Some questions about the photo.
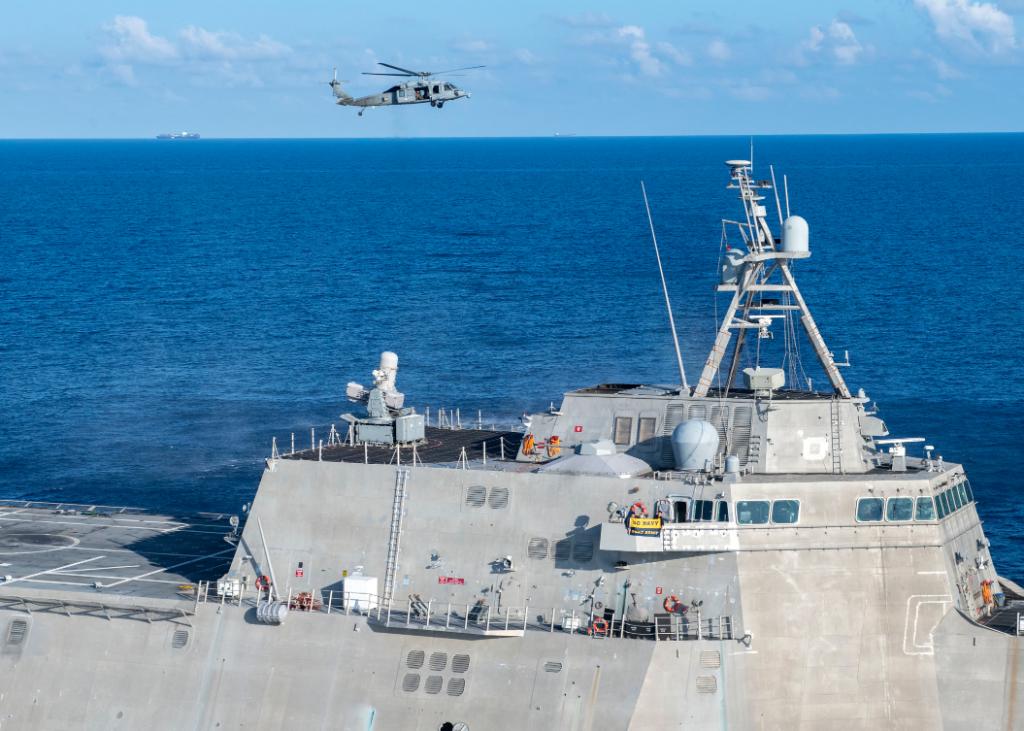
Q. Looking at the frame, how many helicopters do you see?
1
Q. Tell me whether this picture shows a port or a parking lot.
port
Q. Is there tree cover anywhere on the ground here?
No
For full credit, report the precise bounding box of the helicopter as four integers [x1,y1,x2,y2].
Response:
[318,65,487,117]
